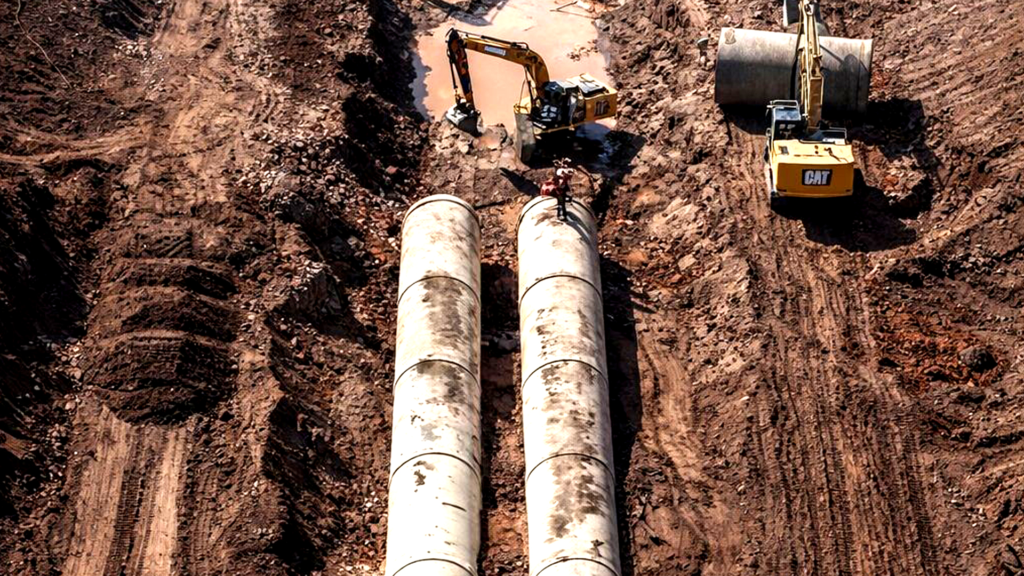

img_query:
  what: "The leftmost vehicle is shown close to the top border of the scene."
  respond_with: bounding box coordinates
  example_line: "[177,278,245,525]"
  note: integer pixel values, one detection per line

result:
[450,28,622,162]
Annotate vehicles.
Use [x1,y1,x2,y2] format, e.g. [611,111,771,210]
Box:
[450,28,622,162]
[762,0,858,209]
